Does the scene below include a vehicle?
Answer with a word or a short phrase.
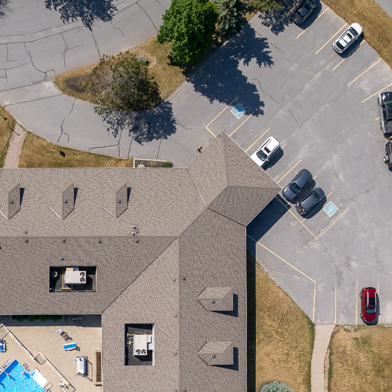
Yes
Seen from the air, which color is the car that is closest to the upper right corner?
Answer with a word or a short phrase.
white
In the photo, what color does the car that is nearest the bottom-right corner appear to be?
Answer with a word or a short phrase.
red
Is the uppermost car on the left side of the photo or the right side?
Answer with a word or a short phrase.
right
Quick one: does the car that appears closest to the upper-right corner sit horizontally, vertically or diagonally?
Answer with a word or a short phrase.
diagonally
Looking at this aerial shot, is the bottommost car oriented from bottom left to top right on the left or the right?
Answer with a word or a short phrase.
right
